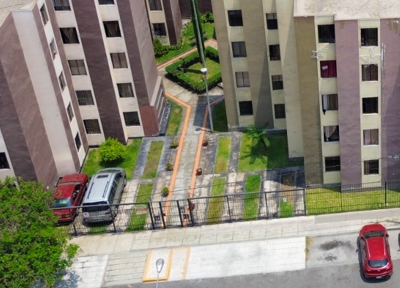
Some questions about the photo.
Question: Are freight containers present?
No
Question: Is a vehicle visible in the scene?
Yes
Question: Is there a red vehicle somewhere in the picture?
Yes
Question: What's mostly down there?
buildings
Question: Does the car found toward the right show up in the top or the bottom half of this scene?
bottom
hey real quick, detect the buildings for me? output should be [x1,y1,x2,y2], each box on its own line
[212,0,400,192]
[0,0,184,215]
